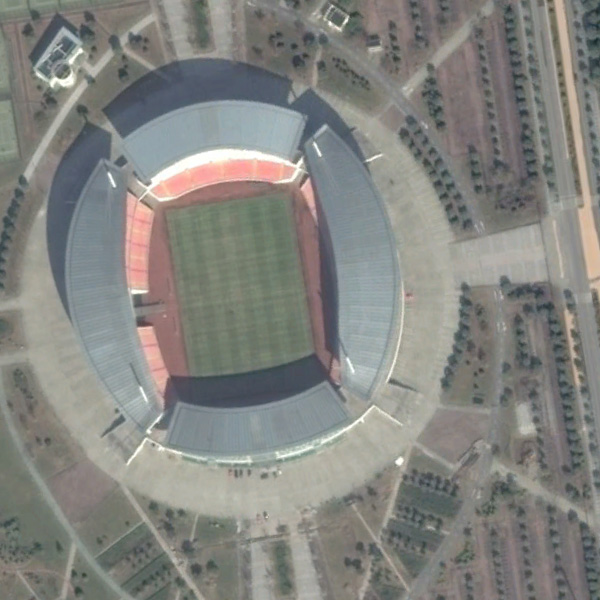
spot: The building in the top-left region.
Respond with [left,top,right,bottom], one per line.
[34,27,86,87]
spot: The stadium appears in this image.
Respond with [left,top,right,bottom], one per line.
[66,100,420,466]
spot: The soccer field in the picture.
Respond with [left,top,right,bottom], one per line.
[130,165,336,407]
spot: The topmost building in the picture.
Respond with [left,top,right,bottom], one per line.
[325,5,350,33]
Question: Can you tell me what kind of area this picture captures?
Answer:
sports ground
